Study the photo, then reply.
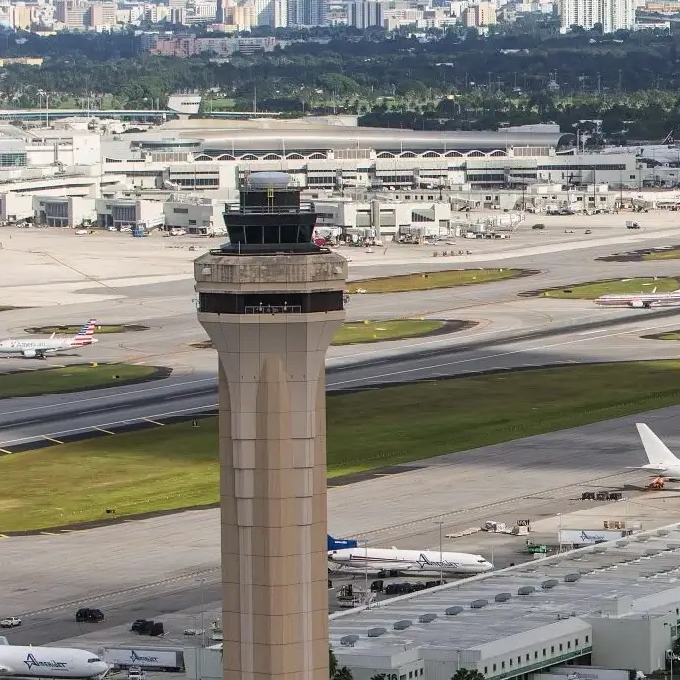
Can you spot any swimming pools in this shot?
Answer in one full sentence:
No, there appears to be no swimming pool in this shot.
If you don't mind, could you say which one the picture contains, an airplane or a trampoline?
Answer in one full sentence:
There is an airplane in the scene.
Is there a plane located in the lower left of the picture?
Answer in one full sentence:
Yes, in the lower left of the picture there is a plane.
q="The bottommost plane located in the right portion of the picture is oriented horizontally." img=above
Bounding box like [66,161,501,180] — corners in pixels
[330,536,499,580]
